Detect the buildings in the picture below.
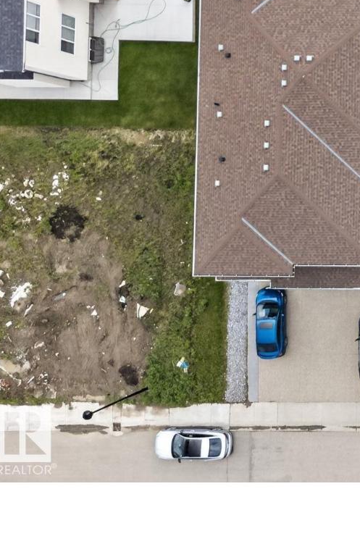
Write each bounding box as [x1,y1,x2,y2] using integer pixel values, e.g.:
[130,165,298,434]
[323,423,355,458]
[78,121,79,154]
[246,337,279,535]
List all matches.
[192,0,360,290]
[0,0,102,92]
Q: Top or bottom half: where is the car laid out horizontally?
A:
bottom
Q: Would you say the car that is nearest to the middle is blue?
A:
Yes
